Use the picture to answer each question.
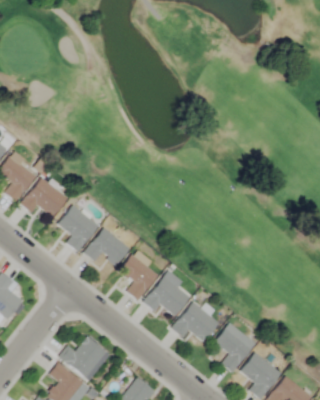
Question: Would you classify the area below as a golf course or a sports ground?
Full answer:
The picture captures a golf course.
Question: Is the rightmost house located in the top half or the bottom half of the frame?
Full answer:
The rightmost house is in the bottom half of the image.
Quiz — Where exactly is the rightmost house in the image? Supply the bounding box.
[265,376,311,400]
